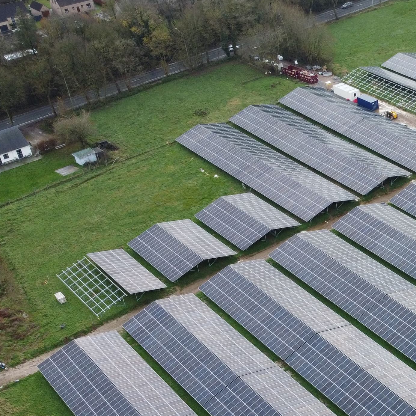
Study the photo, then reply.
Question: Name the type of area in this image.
solar farm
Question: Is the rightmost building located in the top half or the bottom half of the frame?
top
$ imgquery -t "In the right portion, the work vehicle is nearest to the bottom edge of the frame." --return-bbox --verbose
[380,107,401,121]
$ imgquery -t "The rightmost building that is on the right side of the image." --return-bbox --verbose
[333,81,360,101]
